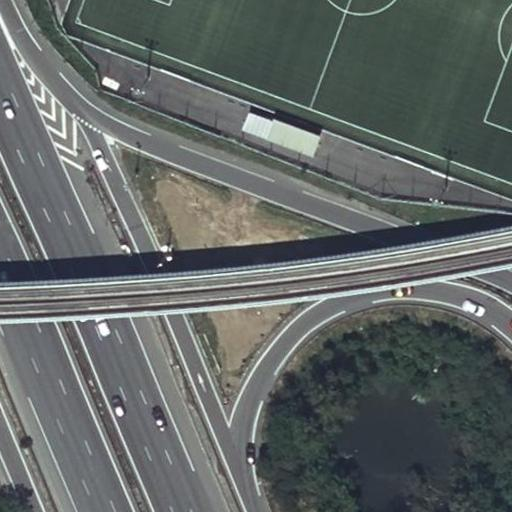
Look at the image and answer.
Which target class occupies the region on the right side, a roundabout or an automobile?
automobile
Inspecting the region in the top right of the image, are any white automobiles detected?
No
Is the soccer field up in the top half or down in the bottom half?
top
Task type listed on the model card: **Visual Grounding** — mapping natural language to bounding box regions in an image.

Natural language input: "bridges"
[0,226,512,323]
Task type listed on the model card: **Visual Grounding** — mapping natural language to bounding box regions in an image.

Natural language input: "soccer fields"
[64,0,512,199]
